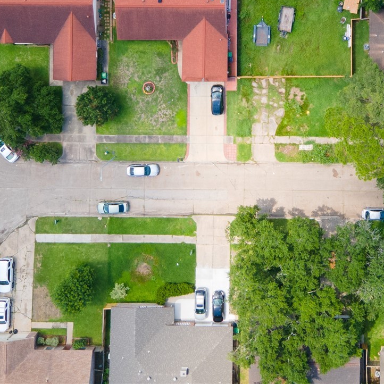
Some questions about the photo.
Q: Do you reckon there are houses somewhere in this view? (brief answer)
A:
Yes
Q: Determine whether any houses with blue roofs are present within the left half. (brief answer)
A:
No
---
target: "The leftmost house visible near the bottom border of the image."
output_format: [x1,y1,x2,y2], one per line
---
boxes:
[0,332,91,384]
